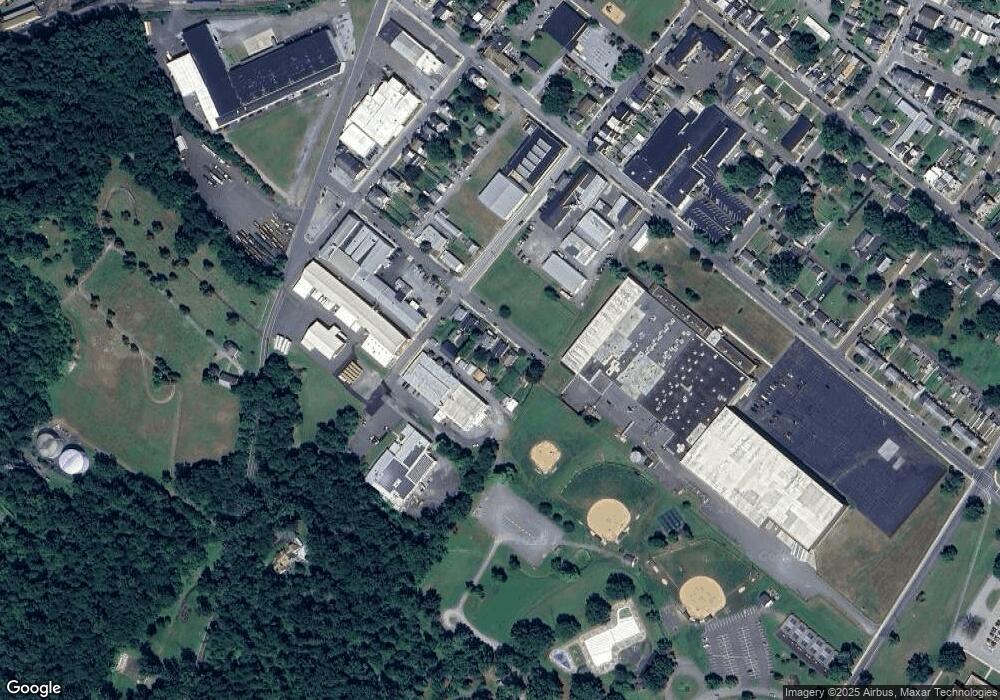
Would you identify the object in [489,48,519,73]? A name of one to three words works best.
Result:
house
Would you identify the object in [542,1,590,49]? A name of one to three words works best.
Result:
building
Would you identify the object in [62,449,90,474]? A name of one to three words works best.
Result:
water tank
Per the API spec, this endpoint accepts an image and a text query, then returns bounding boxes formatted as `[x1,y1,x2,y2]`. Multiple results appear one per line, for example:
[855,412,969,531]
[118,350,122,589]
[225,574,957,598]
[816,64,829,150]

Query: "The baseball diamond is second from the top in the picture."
[562,462,654,546]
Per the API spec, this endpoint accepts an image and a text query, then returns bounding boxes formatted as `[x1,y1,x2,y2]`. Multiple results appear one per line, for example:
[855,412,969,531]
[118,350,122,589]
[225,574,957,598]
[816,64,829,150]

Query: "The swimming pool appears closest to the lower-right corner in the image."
[580,598,646,677]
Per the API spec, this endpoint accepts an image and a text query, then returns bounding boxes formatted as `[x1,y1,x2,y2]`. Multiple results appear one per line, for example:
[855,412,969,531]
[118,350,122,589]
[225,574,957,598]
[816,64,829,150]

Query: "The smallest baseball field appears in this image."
[529,440,562,478]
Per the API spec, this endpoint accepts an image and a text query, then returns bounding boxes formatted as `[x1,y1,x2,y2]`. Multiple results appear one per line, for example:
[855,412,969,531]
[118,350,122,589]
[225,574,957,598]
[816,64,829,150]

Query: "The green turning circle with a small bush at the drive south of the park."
[669,671,704,700]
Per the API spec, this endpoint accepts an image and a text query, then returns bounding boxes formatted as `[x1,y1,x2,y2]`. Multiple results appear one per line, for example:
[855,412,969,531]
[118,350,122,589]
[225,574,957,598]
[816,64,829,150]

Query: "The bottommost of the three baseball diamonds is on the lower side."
[647,543,755,623]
